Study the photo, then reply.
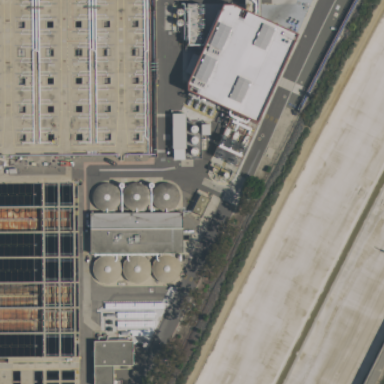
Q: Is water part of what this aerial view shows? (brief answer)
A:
Yes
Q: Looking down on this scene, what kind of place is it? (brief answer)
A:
industrial area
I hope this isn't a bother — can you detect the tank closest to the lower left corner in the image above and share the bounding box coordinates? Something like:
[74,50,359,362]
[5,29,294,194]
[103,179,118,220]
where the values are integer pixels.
[92,255,122,284]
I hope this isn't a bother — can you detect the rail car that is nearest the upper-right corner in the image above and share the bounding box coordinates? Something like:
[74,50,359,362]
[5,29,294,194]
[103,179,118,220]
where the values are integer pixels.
[346,0,361,20]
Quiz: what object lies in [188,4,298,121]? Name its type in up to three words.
building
